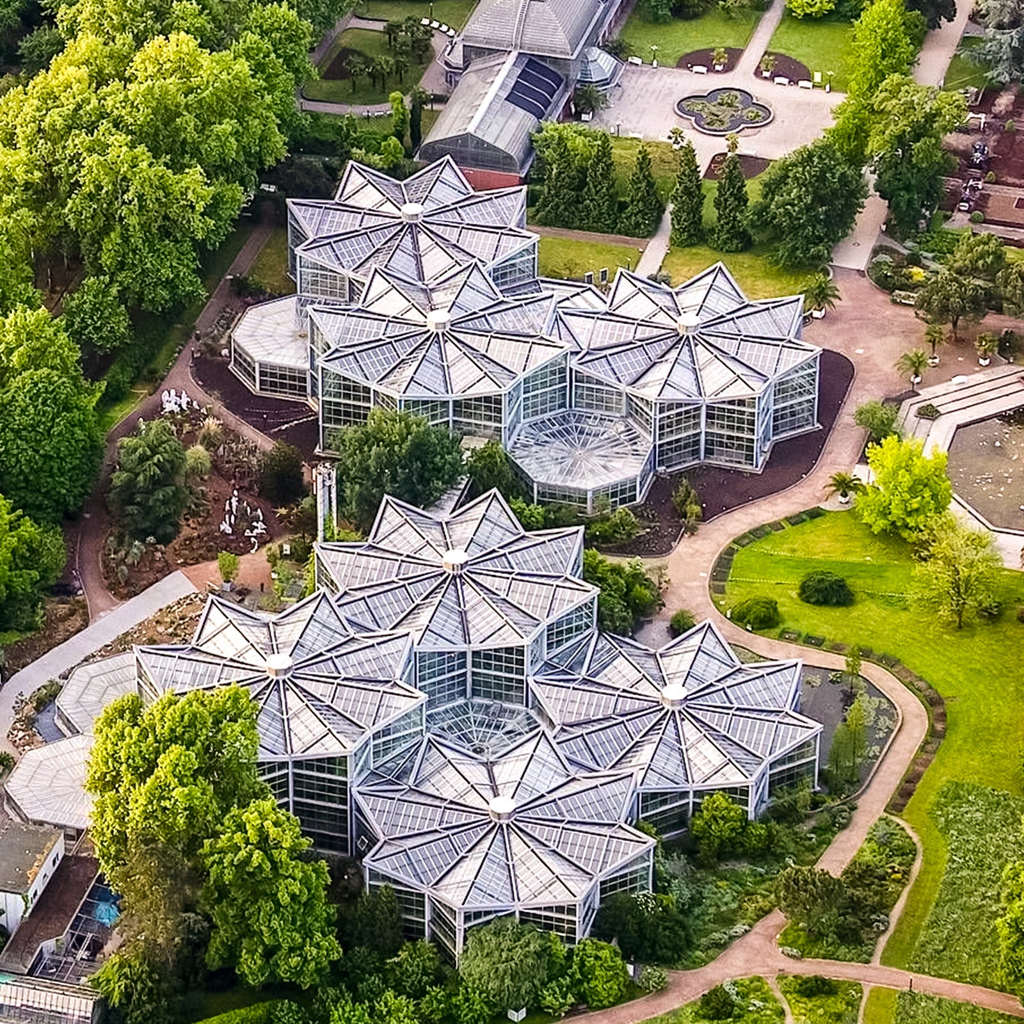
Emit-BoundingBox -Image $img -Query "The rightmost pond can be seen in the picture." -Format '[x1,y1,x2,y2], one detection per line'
[780,662,896,815]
